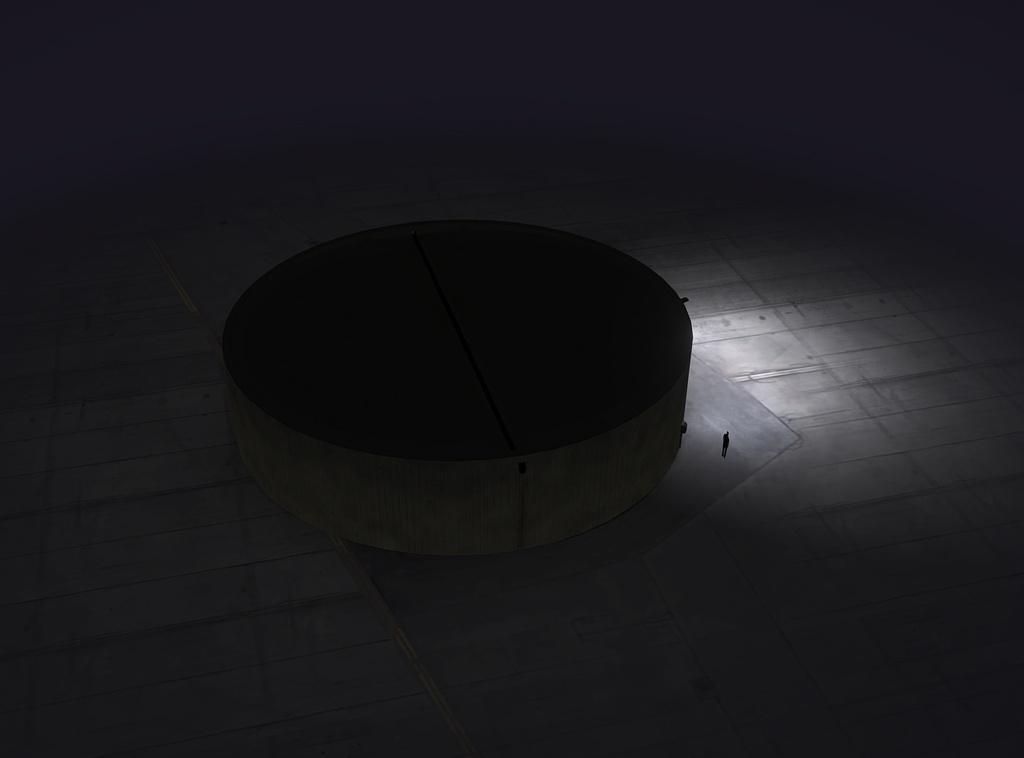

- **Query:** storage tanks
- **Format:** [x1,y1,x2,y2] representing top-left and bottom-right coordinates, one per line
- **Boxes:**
[222,221,693,555]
